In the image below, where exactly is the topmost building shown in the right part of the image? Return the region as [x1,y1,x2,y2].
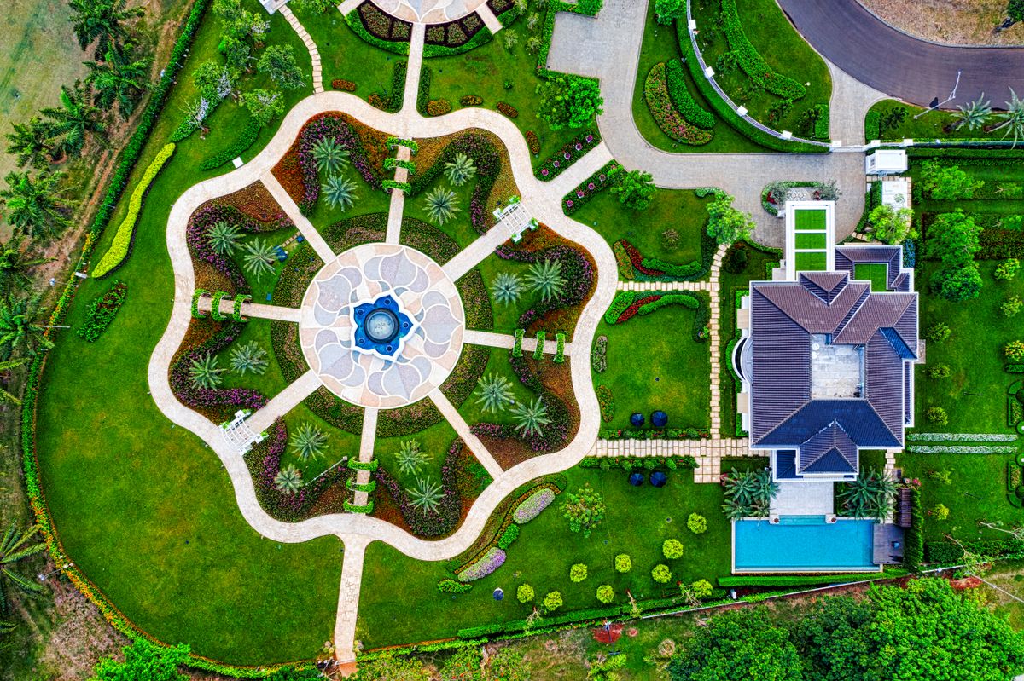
[866,149,907,180]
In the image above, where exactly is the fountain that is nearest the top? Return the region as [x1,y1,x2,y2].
[350,289,420,362]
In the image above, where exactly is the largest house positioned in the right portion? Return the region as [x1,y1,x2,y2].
[726,201,925,482]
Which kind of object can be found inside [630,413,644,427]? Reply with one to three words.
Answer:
umbrella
